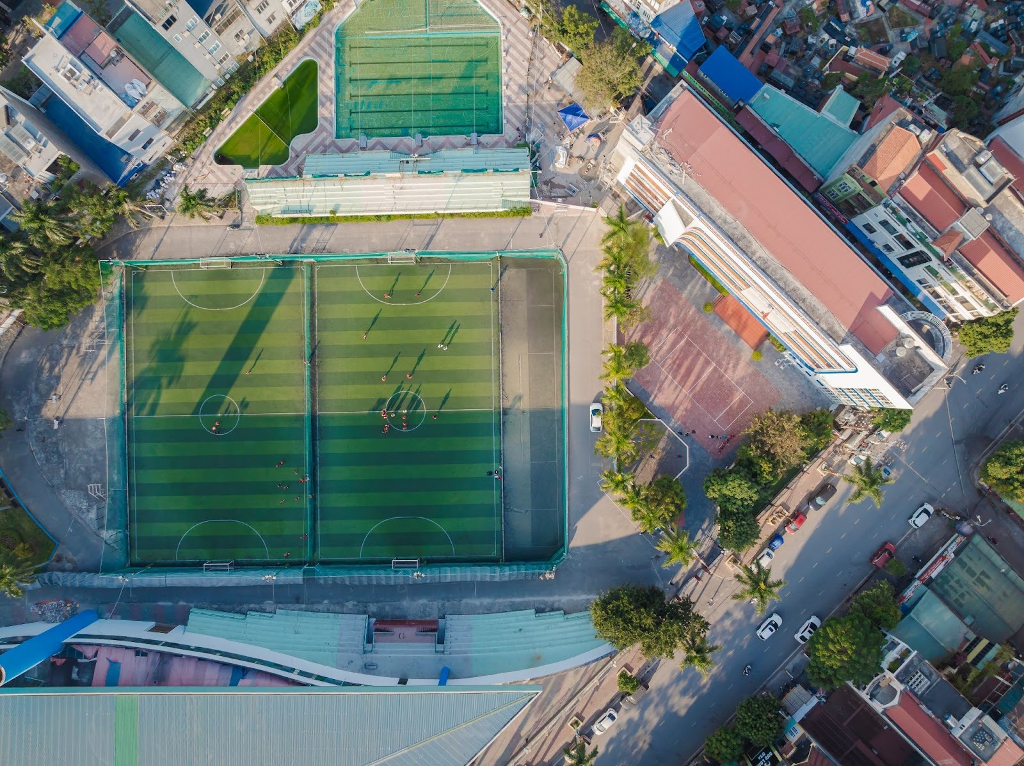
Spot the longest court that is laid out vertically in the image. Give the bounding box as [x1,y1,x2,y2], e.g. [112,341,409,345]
[503,259,566,566]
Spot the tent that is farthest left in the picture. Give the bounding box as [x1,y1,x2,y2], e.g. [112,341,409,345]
[556,106,590,136]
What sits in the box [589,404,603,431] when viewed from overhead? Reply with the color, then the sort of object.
white car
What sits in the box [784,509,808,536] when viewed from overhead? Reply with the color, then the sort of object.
red car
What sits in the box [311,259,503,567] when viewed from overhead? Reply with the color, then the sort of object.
green soccer field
